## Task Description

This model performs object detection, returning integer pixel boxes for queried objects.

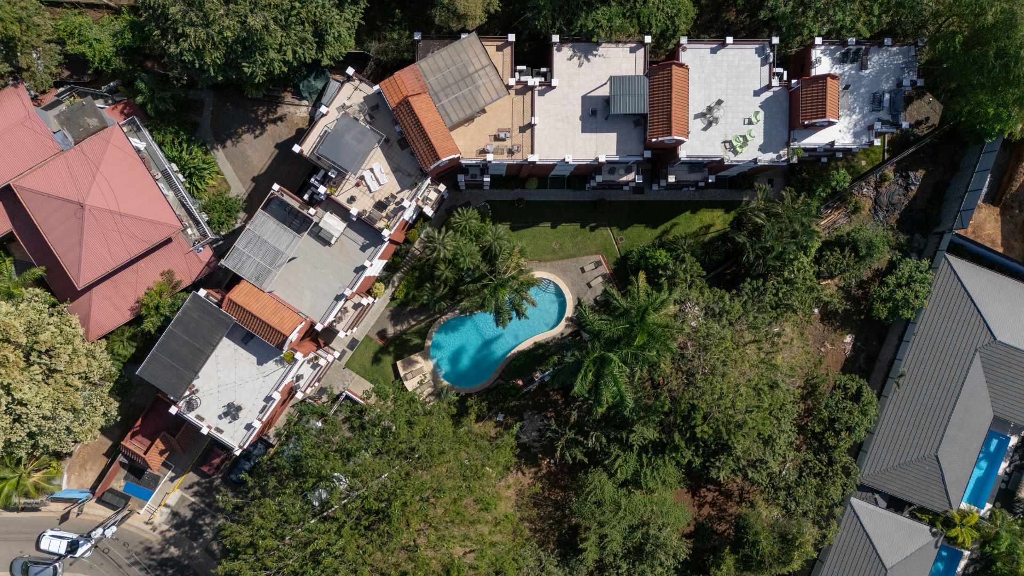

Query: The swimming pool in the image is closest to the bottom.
[928,542,967,576]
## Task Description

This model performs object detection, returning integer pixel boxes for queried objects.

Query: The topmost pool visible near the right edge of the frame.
[958,429,1014,513]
